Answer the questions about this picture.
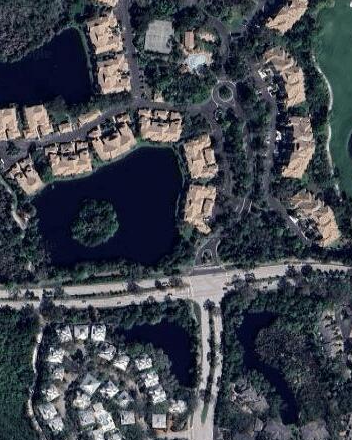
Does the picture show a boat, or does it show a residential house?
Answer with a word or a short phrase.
residential house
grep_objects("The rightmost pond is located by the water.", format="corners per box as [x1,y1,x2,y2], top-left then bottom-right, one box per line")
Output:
[238,309,297,426]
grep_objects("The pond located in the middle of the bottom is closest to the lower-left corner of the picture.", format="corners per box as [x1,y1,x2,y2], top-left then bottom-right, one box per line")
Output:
[117,323,192,390]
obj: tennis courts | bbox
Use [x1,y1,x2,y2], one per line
[159,21,174,53]
[147,21,160,53]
